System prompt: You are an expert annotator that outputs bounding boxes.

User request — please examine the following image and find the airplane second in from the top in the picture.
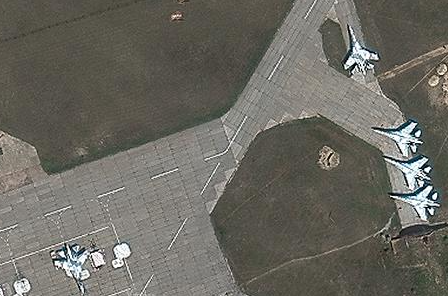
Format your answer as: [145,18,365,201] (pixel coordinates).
[370,120,426,157]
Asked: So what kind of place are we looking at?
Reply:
airport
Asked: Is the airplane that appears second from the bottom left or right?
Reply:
right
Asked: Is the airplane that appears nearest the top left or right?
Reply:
right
